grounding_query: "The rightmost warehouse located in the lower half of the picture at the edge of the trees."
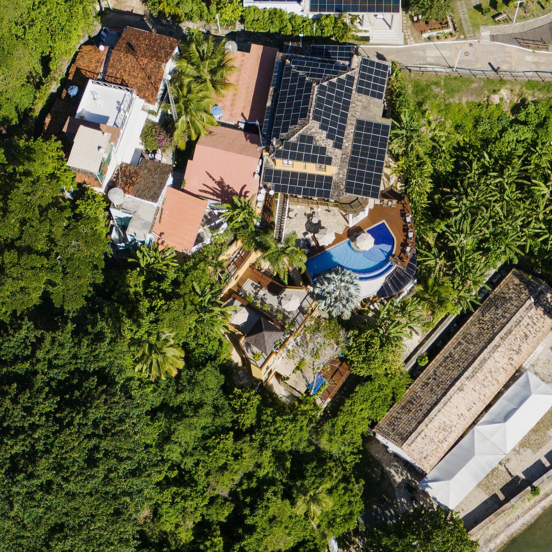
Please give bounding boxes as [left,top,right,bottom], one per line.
[374,268,552,475]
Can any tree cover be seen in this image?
Yes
